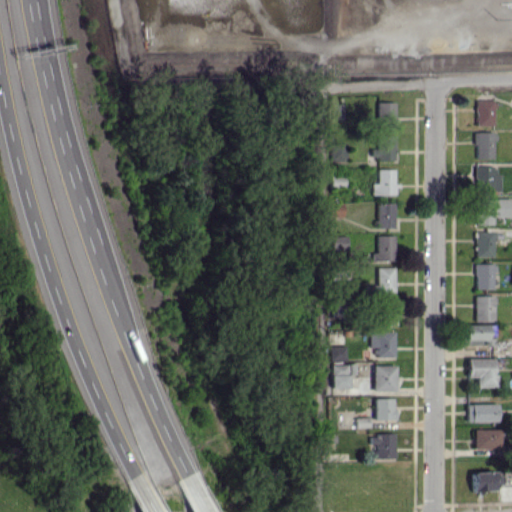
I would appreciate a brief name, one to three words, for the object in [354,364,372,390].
building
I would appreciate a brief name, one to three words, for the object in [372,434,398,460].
house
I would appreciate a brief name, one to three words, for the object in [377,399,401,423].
house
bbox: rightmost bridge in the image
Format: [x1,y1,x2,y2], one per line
[180,470,223,512]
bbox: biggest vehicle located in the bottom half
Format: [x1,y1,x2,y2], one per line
[129,330,148,364]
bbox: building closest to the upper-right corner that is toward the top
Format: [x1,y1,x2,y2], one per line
[475,100,496,126]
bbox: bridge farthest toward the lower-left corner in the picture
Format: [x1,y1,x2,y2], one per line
[128,472,171,512]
